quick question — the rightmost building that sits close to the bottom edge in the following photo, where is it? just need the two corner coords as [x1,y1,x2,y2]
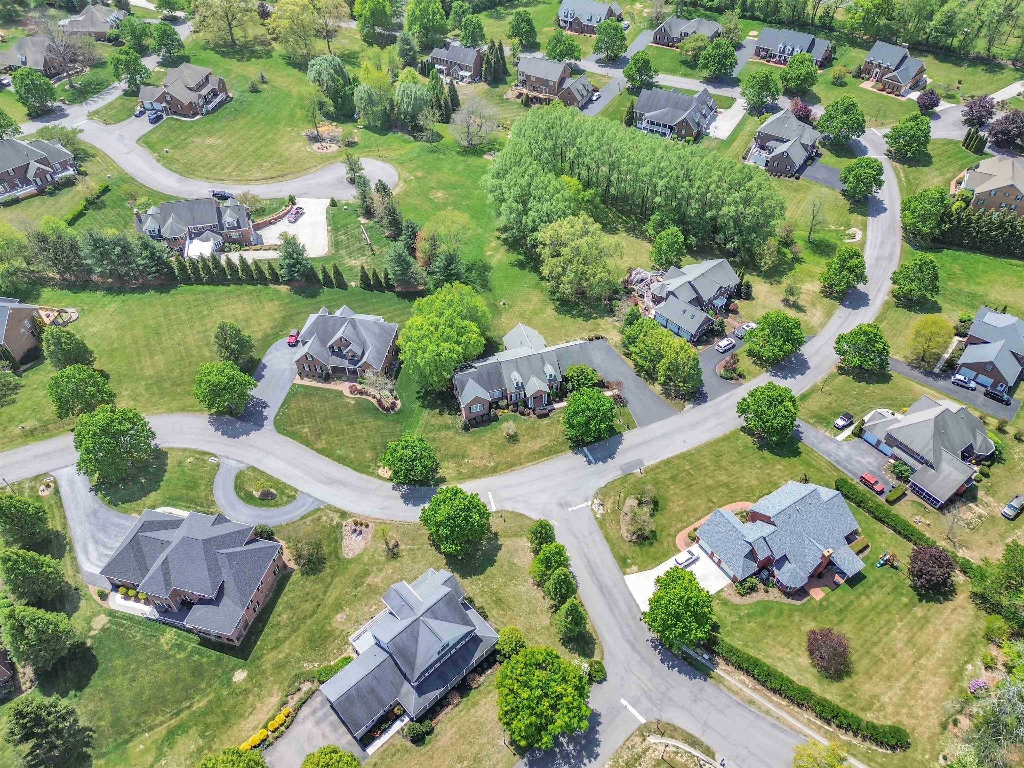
[319,564,500,738]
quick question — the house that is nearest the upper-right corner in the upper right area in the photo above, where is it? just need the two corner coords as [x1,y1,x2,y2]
[861,40,926,98]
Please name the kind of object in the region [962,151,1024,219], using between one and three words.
house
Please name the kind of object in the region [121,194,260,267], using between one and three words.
house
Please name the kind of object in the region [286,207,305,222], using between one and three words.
vehicle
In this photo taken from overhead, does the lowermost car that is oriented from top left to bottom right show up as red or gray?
red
